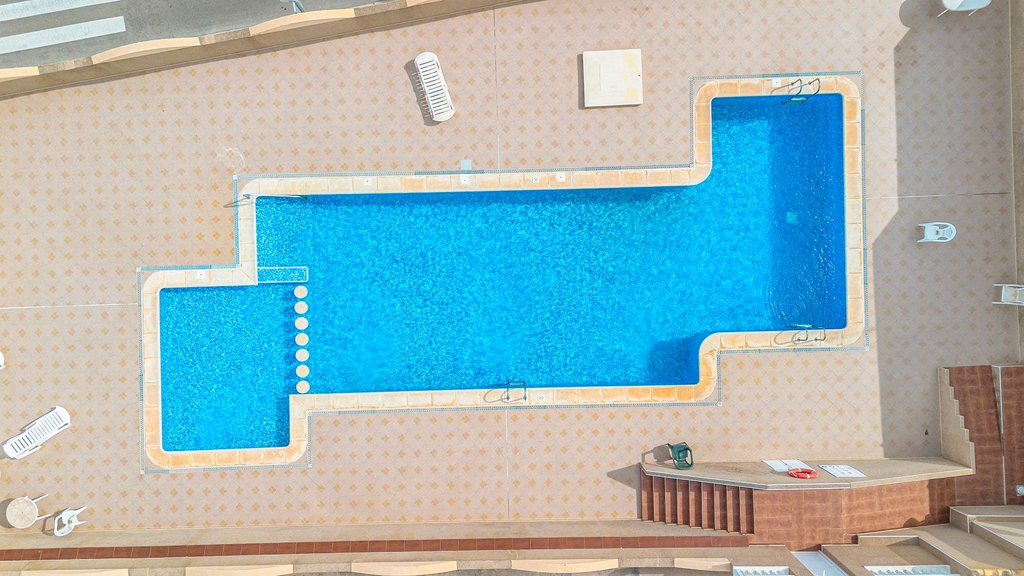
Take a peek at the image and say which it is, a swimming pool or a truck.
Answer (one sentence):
Visible in the photo is a swimming pool.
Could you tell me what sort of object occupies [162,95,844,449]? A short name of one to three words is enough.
swimming pool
